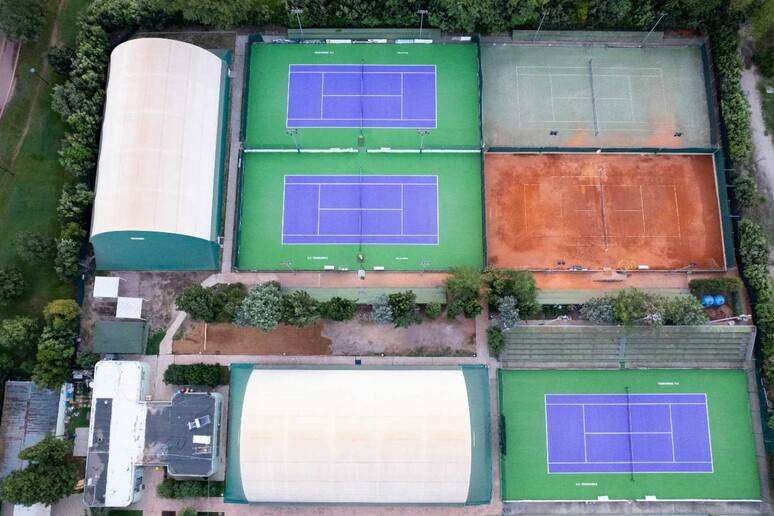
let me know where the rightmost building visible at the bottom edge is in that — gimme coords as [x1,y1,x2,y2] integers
[224,364,492,507]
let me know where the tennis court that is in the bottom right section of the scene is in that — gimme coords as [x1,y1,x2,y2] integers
[500,370,761,502]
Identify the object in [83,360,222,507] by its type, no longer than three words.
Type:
building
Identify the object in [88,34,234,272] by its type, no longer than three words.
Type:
building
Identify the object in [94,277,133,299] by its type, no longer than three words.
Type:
gazebo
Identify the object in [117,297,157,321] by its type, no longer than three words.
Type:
gazebo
